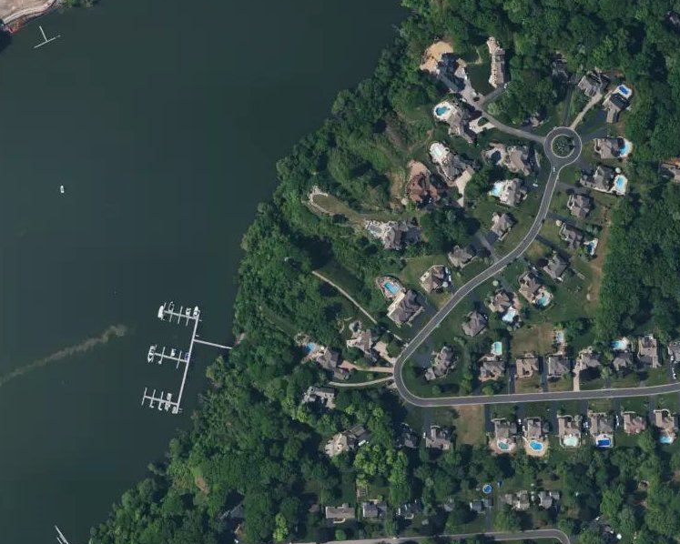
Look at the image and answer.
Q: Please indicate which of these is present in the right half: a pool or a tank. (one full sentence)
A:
It is a pool that can be seen in the right half.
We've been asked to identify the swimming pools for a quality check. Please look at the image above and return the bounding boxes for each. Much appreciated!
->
[490,438,517,453]
[434,101,454,119]
[615,81,634,99]
[561,436,581,448]
[488,180,503,196]
[585,240,597,255]
[383,278,404,301]
[430,142,448,163]
[502,306,517,324]
[488,145,505,163]
[619,135,631,157]
[612,173,628,194]
[612,339,630,350]
[492,341,503,353]
[352,320,361,332]
[596,434,612,447]
[305,341,317,354]
[555,329,564,347]
[523,438,548,461]
[535,290,552,308]
[658,433,674,443]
